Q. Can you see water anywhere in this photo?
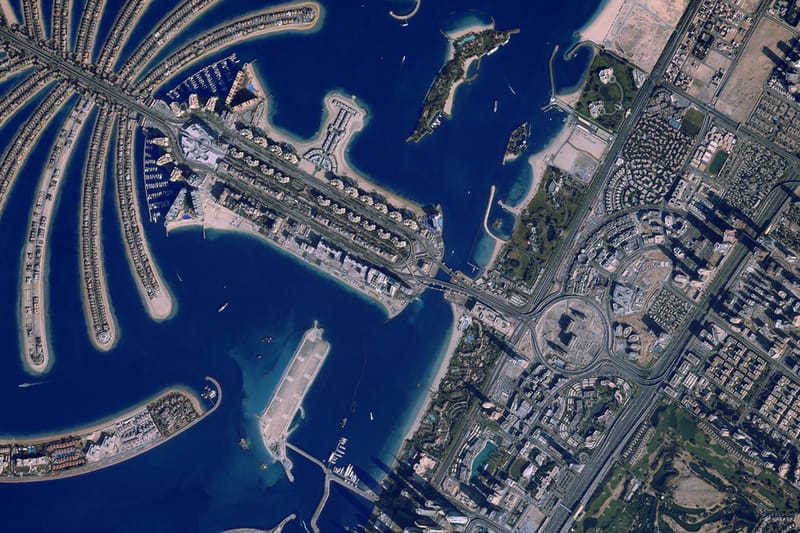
Yes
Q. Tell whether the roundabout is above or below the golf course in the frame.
above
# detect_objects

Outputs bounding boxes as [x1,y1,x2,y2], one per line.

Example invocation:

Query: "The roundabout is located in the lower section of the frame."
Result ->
[530,293,616,377]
